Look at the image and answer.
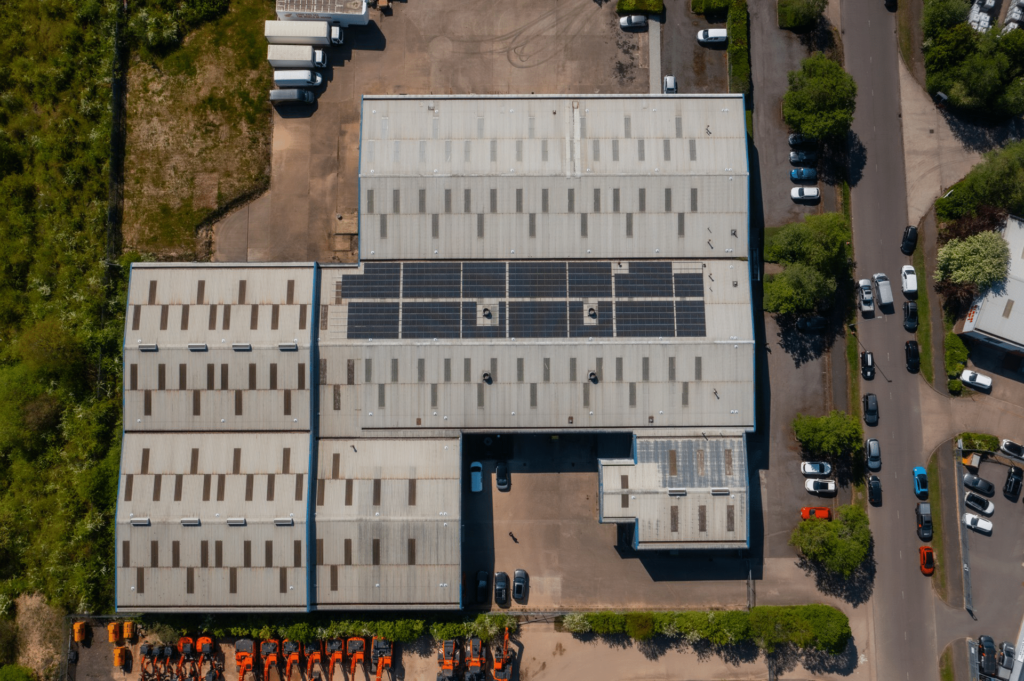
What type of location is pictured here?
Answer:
industrial area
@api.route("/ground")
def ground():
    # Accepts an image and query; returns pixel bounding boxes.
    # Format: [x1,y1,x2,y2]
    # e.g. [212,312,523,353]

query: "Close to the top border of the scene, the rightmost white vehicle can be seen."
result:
[697,27,729,44]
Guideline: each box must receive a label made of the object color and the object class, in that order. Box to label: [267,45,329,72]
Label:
white truck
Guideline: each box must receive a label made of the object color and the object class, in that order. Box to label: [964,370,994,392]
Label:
white car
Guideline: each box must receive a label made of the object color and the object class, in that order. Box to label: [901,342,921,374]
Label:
black car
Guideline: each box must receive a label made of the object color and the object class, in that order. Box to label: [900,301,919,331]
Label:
black car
